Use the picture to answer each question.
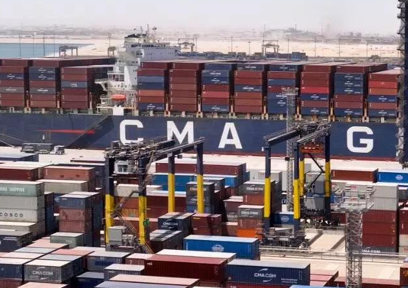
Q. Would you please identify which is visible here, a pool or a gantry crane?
gantry crane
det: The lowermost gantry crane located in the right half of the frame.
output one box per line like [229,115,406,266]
[261,120,334,245]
